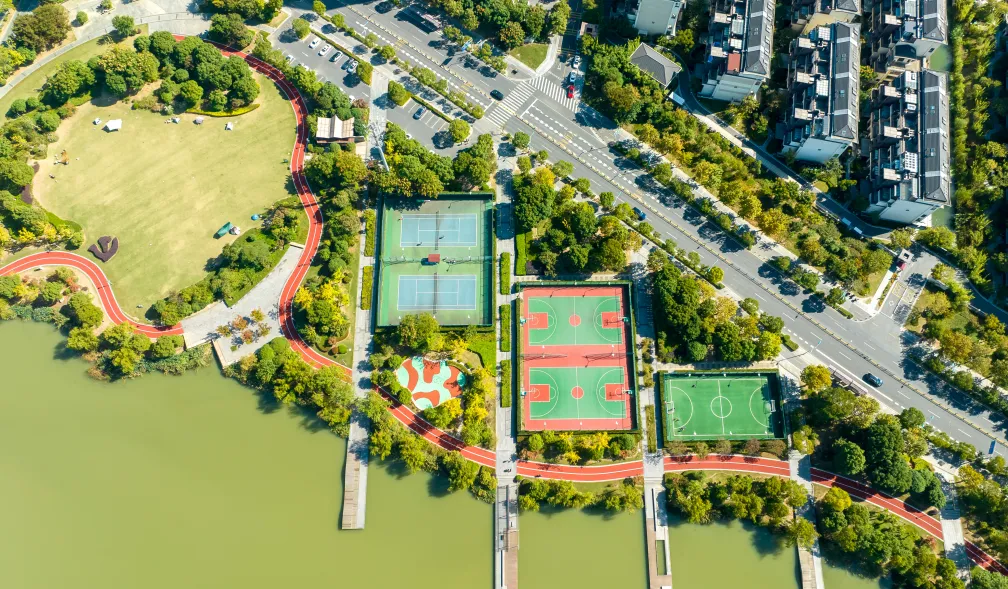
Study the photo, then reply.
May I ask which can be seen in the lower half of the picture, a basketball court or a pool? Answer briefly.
basketball court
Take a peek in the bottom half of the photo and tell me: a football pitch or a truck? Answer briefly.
football pitch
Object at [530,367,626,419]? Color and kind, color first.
green basketball court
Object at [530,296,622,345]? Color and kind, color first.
green basketball court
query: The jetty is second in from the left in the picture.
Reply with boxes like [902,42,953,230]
[494,488,518,589]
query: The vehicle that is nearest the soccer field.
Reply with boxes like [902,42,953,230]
[865,371,883,386]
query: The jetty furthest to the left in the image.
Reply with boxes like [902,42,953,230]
[342,441,370,529]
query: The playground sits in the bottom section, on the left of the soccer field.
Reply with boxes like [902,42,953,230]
[396,356,468,410]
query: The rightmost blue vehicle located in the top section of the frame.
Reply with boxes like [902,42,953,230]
[632,206,647,219]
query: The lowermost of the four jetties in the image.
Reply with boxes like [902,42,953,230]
[797,546,824,589]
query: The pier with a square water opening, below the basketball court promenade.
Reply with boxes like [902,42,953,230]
[646,492,672,589]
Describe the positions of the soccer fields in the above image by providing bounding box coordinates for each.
[662,374,780,441]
